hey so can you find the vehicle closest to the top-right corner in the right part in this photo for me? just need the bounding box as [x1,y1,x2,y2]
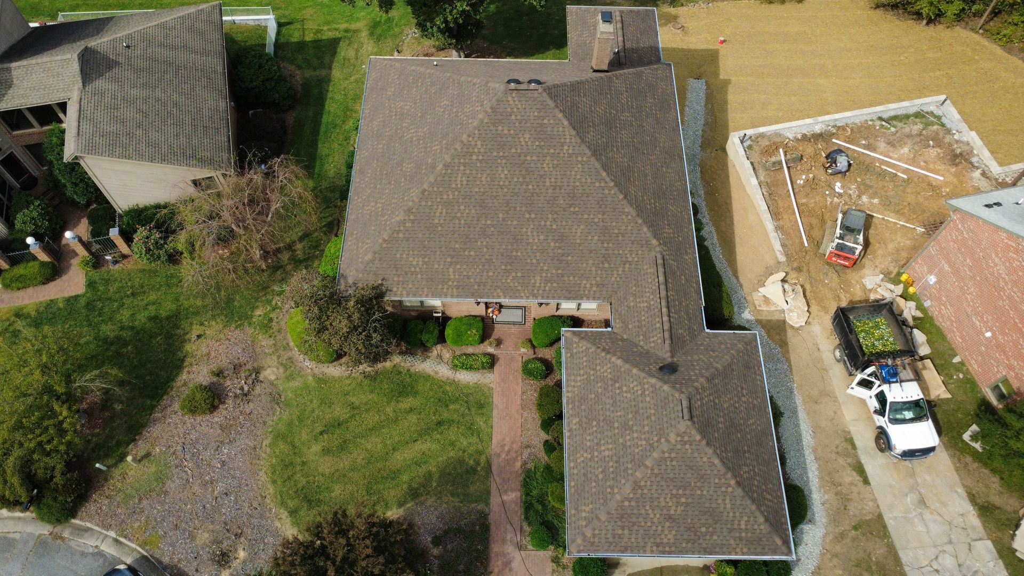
[812,206,865,275]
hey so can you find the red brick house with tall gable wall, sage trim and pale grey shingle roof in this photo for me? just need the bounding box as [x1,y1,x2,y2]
[901,173,1024,408]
